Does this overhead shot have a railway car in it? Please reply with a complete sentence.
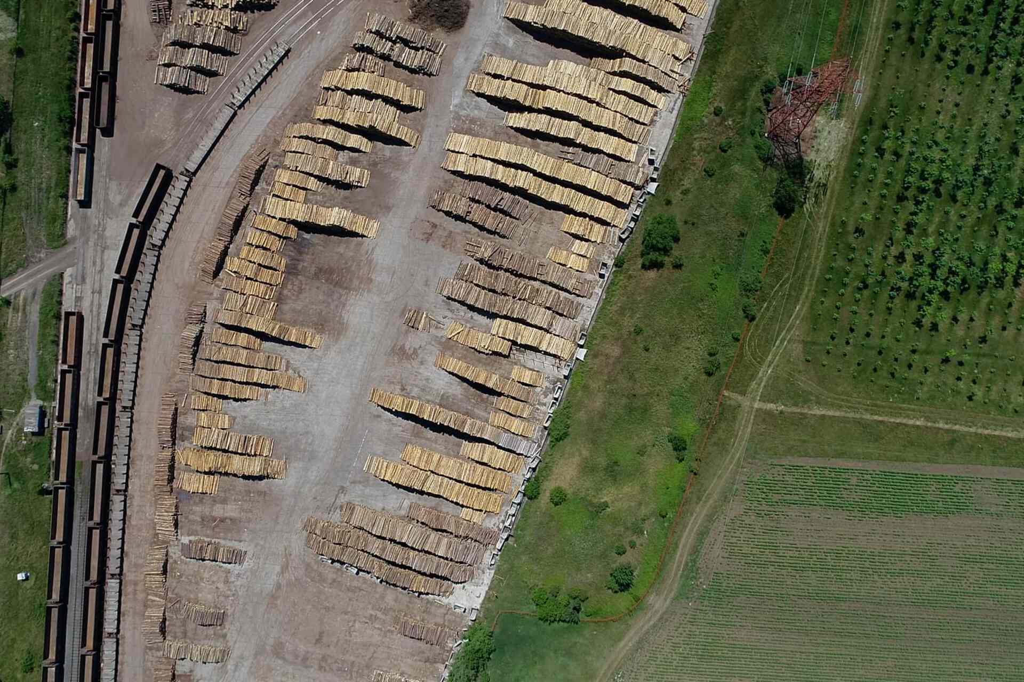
Yes, I can see a railway car in this picture.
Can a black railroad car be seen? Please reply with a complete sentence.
Yes, the image includes a black railroad car.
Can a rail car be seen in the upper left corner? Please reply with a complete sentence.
Yes, in the upper left corner there is a rail car.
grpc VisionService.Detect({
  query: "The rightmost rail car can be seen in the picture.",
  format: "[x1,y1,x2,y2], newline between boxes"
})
[229,40,291,108]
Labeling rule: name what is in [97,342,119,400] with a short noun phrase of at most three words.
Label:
rail car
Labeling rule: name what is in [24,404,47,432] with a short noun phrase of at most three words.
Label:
shed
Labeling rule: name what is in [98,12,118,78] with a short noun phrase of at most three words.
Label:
rail car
